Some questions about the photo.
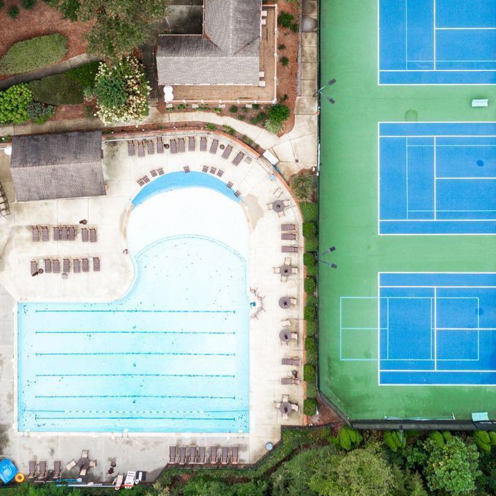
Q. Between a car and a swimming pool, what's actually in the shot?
swimming pool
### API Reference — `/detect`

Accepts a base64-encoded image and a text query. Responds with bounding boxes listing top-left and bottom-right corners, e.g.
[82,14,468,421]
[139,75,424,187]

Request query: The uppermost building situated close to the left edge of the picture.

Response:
[11,131,107,203]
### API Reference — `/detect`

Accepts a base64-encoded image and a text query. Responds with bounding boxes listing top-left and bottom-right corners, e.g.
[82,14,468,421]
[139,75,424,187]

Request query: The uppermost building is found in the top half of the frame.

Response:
[156,0,276,104]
